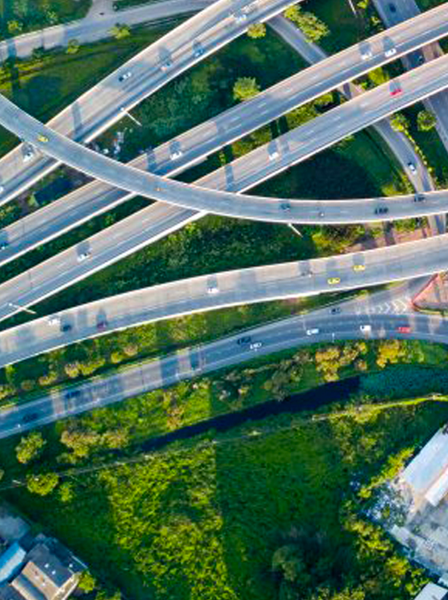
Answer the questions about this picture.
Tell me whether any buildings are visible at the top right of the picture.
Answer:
No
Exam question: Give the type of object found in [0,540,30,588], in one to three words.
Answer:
house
